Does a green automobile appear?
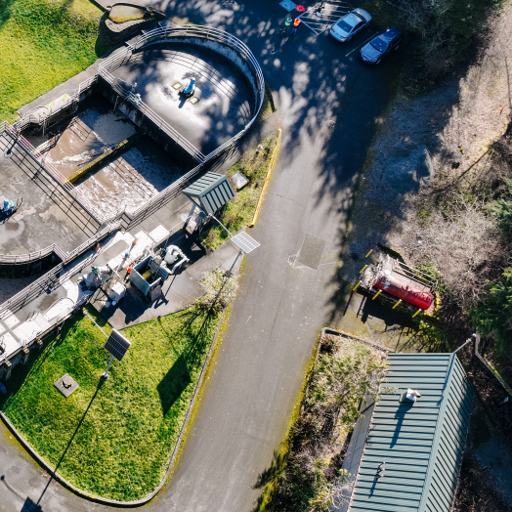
No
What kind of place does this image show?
industrial area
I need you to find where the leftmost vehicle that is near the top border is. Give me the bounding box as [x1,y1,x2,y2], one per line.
[329,7,377,45]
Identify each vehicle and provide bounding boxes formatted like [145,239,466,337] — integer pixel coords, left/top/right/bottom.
[359,20,407,66]
[329,7,377,45]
